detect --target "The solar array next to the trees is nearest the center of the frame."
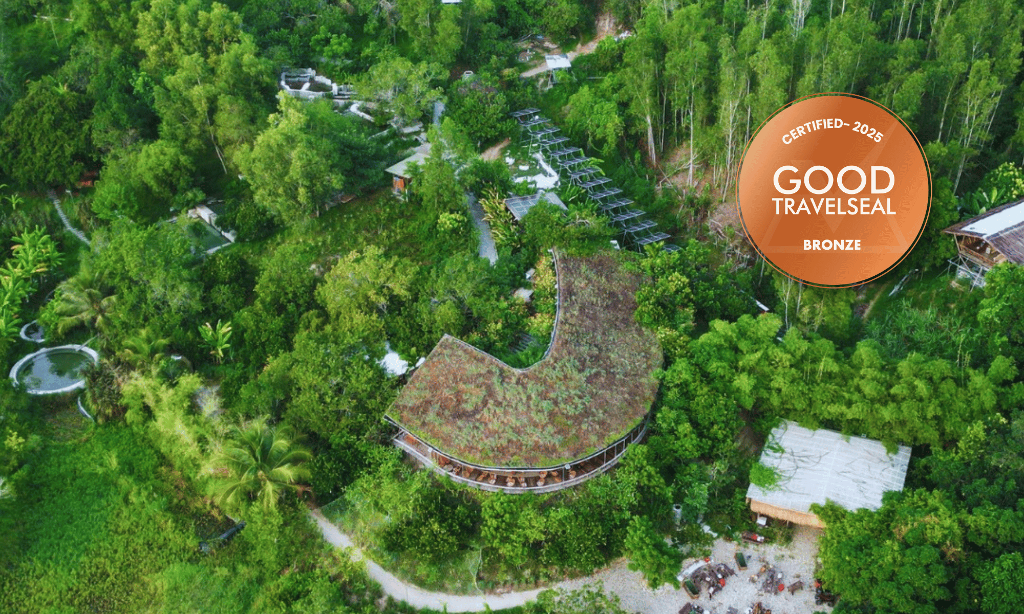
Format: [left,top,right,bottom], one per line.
[509,197,544,213]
